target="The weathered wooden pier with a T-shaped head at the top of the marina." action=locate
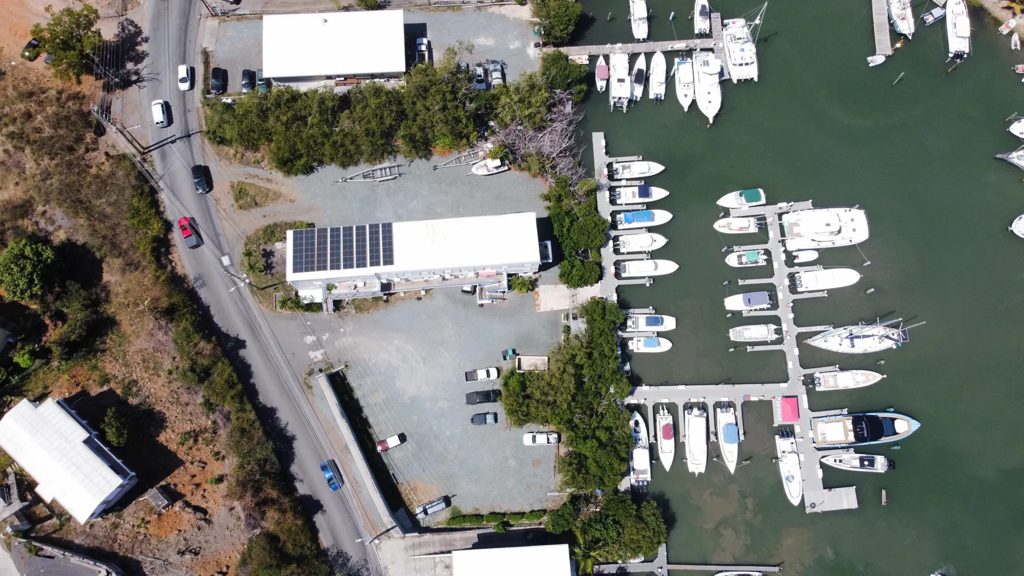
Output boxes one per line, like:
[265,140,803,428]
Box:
[545,13,728,81]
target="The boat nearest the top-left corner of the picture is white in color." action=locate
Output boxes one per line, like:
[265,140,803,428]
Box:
[472,161,519,177]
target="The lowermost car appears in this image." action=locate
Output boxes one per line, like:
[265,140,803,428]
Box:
[416,496,450,518]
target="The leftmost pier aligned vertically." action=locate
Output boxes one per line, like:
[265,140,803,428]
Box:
[592,132,657,484]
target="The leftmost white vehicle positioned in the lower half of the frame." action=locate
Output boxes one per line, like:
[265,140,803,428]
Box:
[375,432,406,454]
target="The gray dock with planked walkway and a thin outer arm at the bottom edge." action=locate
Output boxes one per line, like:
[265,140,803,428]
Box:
[593,547,779,576]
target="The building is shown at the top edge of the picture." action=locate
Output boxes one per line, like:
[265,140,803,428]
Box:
[263,9,406,89]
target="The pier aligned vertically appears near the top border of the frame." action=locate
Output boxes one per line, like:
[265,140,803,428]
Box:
[872,0,892,57]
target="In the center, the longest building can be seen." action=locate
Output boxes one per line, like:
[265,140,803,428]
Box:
[287,212,540,312]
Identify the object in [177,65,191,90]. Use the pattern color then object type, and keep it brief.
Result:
white car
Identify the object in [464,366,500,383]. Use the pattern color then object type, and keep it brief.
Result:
white vehicle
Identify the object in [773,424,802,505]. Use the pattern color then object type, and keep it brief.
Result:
white boat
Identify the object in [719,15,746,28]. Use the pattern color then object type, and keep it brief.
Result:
white boat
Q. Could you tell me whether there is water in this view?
Yes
